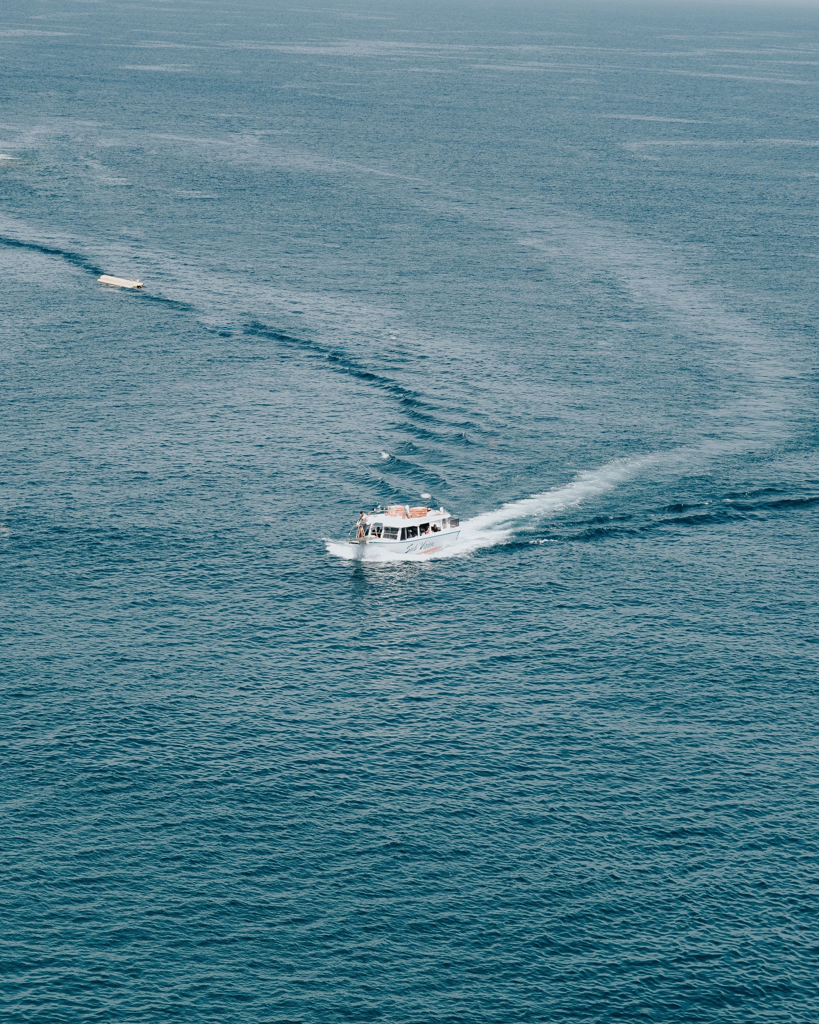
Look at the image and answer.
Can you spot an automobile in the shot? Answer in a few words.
No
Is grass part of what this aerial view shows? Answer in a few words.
No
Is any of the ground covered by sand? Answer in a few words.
No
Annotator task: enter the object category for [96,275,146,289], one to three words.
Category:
boat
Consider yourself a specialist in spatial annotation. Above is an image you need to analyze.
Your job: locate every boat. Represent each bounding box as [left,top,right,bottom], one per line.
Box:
[96,275,146,289]
[349,500,460,556]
